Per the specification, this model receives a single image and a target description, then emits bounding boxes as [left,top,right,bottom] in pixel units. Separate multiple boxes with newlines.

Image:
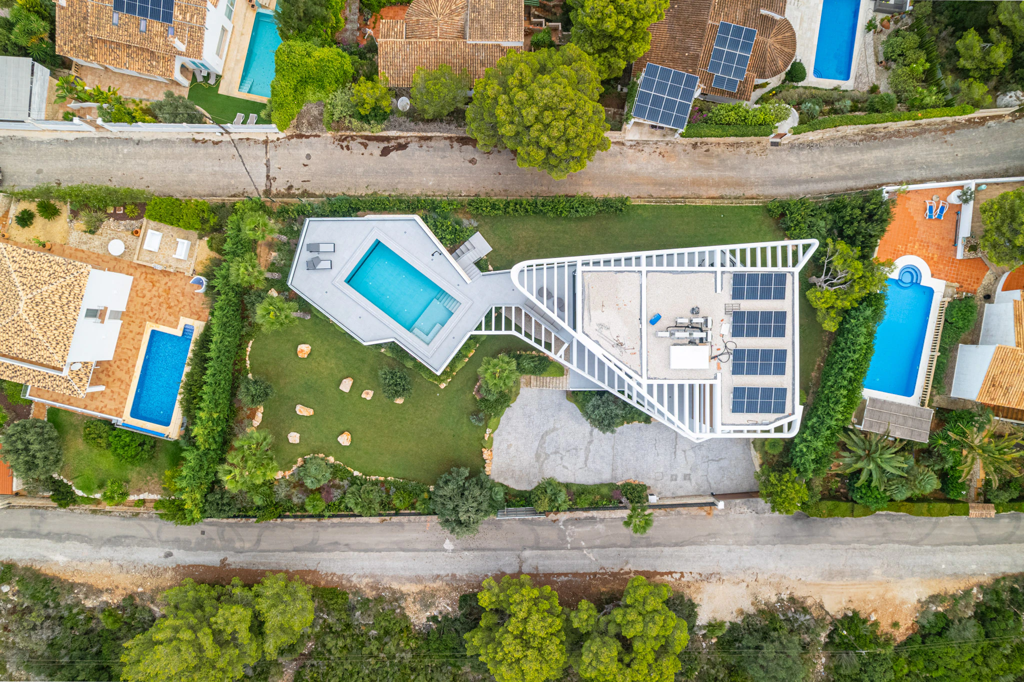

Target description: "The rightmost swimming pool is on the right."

[849,254,945,405]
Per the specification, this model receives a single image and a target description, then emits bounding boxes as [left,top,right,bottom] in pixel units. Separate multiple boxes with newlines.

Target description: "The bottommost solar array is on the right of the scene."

[730,386,787,413]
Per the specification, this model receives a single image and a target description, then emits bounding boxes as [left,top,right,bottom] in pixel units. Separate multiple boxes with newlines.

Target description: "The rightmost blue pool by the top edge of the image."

[808,0,866,87]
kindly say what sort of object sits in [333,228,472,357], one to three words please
swimming pool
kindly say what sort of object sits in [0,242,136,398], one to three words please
house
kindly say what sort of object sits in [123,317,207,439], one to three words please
swimming pool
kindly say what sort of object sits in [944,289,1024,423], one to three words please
house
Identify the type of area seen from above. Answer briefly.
residential area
